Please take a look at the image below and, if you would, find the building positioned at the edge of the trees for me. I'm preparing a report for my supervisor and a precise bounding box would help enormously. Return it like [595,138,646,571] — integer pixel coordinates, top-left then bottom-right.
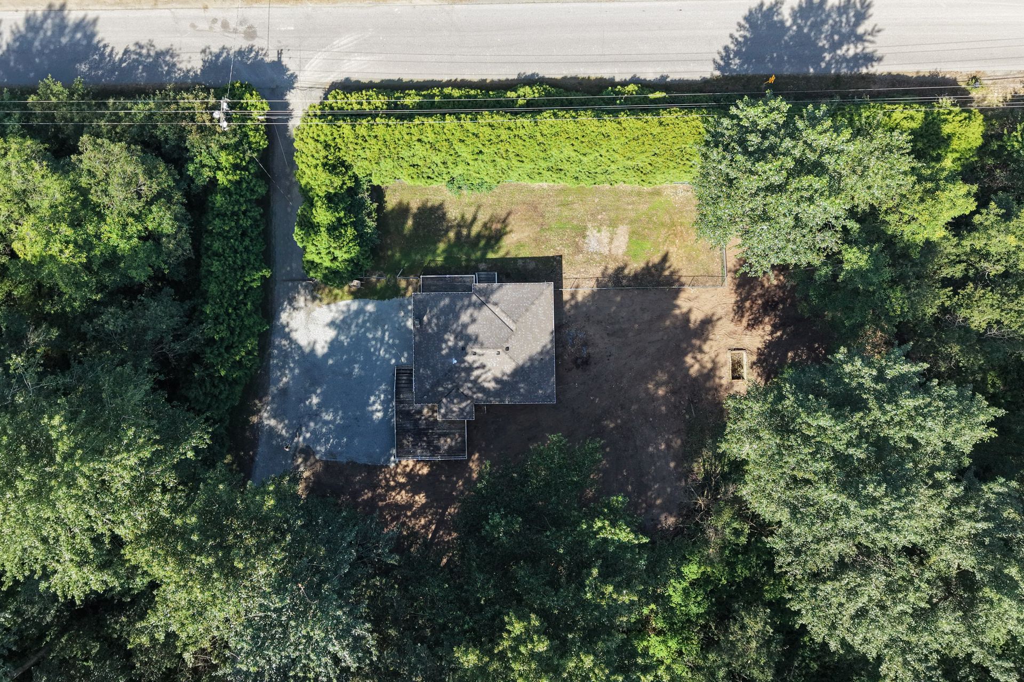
[411,281,556,421]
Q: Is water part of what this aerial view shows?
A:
No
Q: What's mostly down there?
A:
trees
